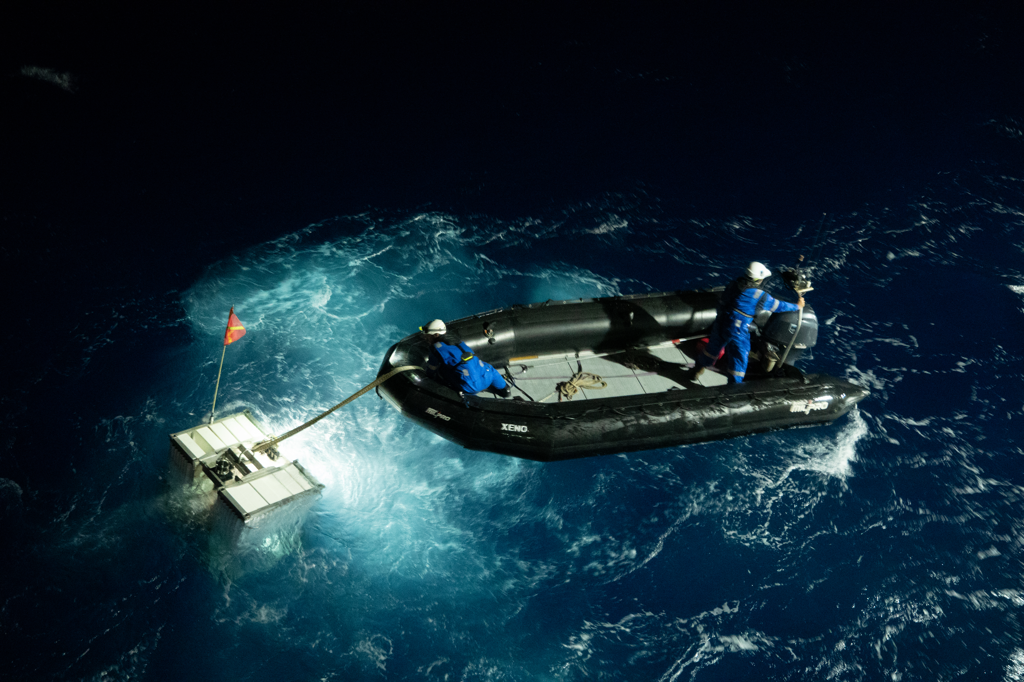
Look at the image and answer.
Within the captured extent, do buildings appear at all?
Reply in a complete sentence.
No, the picture doesn't show any building.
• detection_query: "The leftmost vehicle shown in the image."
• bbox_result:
[167,308,326,558]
